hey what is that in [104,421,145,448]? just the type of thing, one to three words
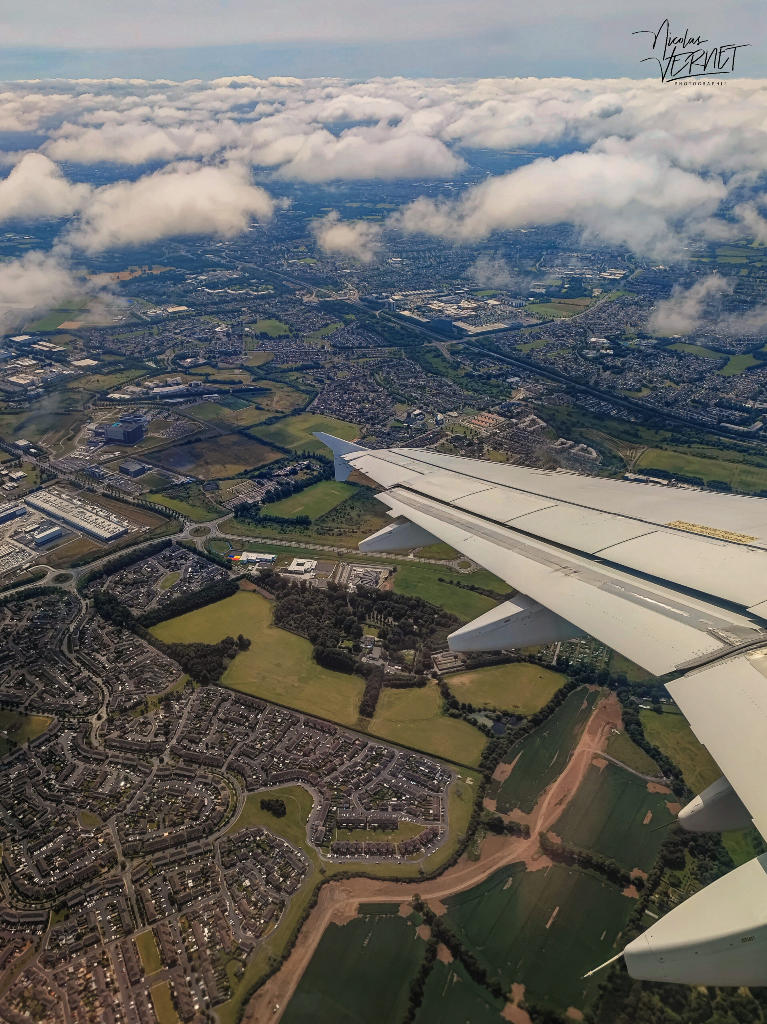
building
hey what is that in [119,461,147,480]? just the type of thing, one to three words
building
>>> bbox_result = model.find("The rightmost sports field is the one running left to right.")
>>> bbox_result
[638,451,767,491]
